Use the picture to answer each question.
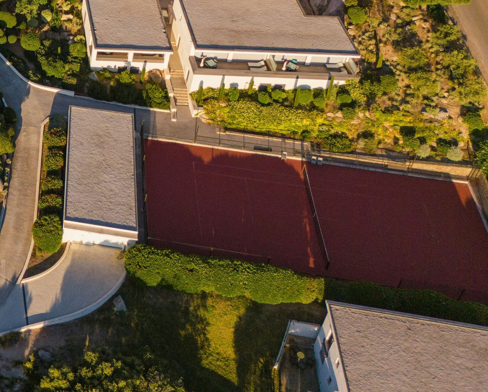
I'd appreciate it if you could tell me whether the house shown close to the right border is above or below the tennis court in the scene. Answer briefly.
below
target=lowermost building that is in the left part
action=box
[61,105,139,257]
